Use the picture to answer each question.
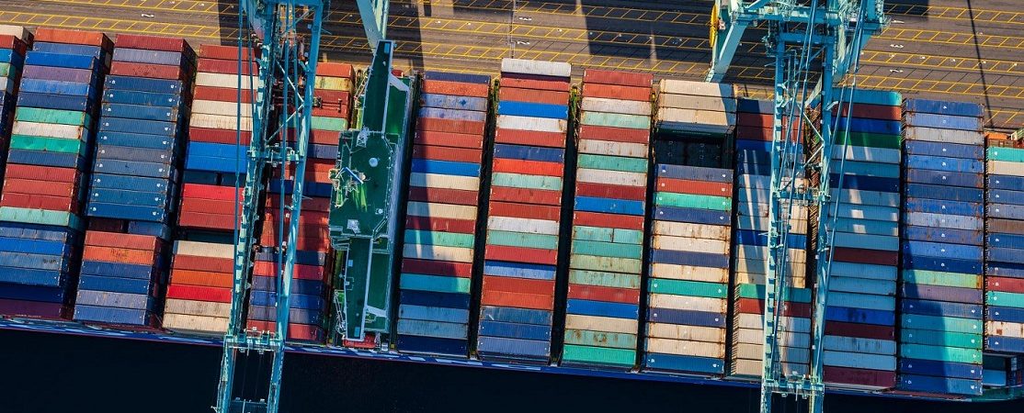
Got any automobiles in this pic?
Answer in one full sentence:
No, the frame has no automobile in it.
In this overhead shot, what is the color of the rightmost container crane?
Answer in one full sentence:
The rightmost container crane looks blue in the image.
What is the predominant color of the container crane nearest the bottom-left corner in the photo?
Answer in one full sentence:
In this view, the container crane nearest the bottom-left corner is blue.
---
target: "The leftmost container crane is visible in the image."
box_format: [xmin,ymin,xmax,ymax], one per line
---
[218,0,415,413]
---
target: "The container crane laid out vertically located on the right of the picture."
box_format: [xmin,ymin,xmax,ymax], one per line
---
[695,0,901,413]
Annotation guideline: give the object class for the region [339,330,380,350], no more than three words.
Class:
boat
